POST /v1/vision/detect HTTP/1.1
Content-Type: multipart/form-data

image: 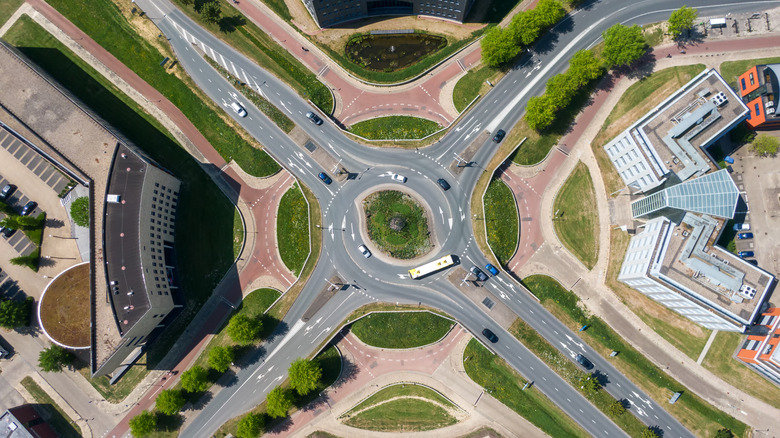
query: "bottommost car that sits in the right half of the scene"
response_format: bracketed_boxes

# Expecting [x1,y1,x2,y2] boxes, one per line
[575,353,595,370]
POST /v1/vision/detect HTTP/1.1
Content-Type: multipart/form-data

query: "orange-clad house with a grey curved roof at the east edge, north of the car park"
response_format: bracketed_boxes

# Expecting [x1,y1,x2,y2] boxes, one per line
[739,60,780,129]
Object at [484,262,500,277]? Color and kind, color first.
blue car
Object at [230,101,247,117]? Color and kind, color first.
white car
